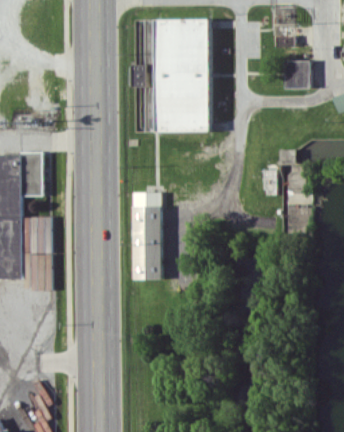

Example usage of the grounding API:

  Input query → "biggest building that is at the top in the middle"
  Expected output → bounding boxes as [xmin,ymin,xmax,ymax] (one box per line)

[156,18,210,134]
